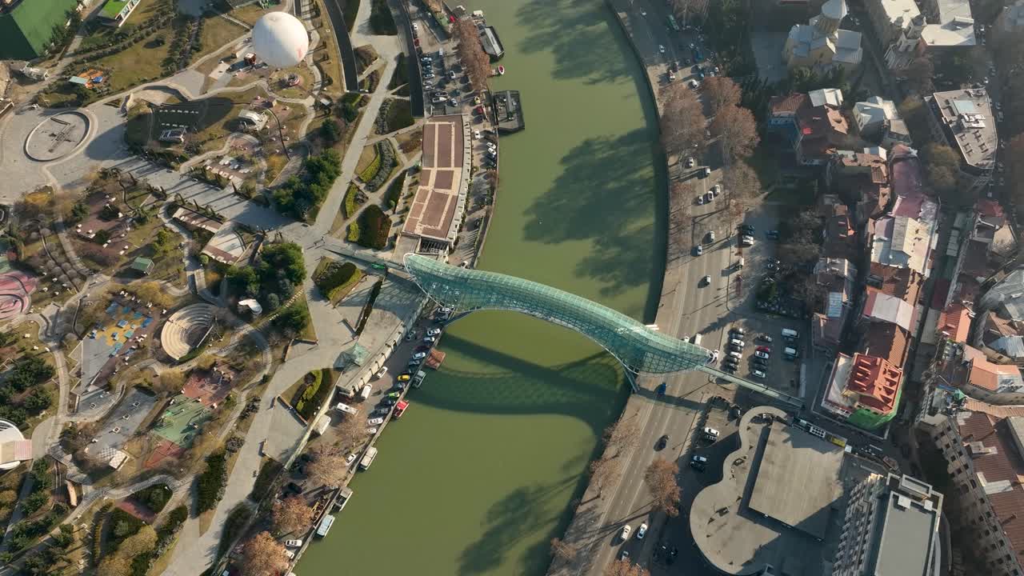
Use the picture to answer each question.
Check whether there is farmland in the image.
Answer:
No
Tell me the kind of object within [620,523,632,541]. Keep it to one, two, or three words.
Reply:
vehicle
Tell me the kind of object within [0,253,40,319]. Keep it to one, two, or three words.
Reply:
playground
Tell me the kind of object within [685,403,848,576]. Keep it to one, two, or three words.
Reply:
building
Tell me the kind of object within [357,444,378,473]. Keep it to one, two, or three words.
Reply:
boat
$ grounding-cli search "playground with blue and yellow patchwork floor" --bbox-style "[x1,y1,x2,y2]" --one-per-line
[87,302,157,354]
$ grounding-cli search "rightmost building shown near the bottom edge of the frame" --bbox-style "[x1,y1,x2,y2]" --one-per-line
[934,424,1024,576]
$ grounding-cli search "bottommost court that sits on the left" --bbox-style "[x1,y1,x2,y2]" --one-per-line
[144,368,232,469]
